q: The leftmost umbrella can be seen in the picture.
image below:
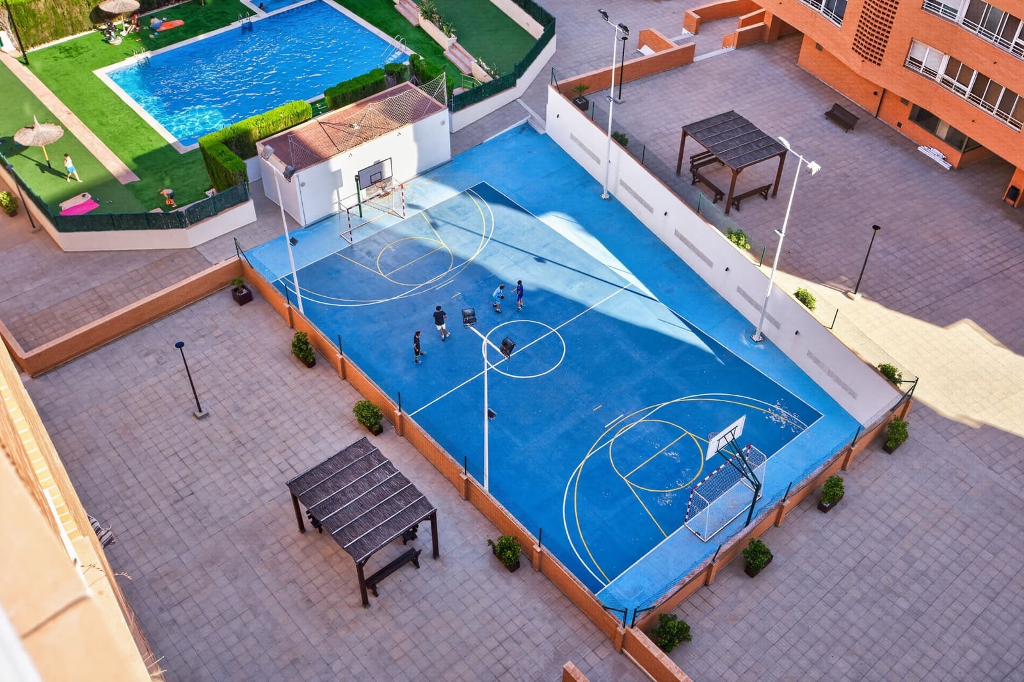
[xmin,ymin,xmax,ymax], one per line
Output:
[10,117,64,168]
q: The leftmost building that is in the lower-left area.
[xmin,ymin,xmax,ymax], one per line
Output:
[0,331,168,682]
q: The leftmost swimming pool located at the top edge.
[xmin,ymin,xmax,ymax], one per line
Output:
[105,0,408,143]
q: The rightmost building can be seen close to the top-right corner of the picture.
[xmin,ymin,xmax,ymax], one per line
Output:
[751,0,1024,208]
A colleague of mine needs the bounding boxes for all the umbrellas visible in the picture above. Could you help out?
[10,117,64,168]
[93,0,138,33]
